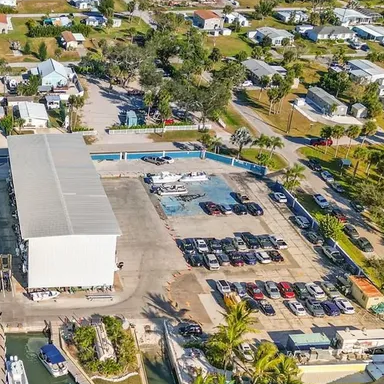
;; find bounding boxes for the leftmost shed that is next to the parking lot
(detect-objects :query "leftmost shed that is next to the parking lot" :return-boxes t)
[7,133,122,286]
